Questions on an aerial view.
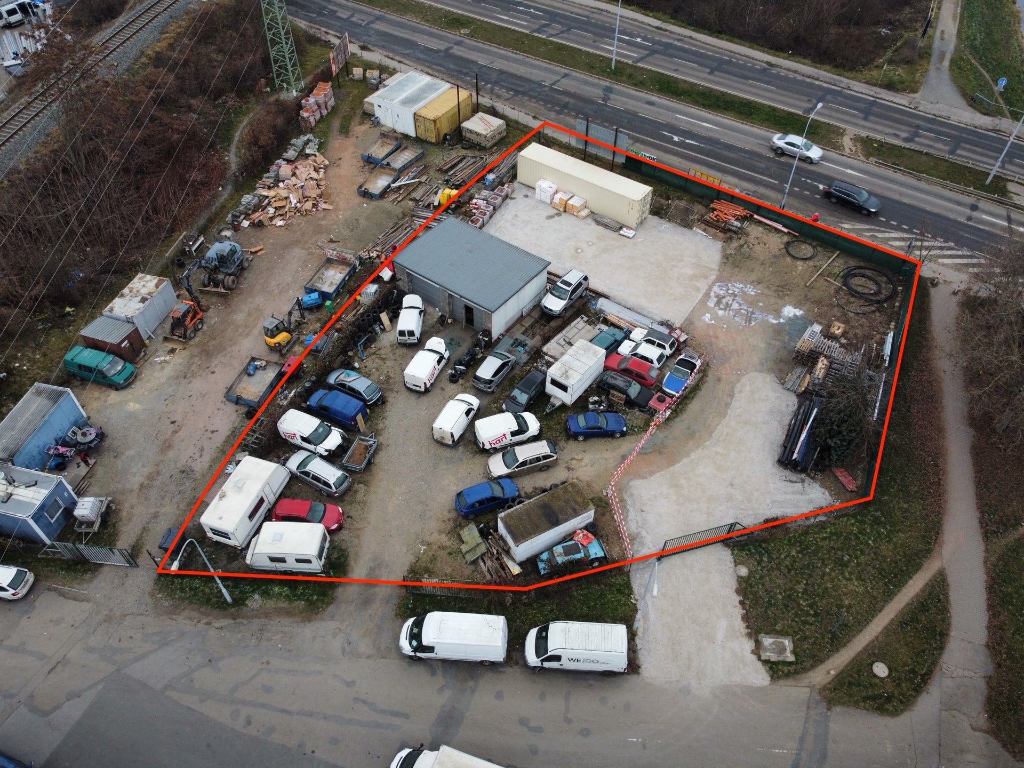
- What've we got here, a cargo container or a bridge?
cargo container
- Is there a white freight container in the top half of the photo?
Yes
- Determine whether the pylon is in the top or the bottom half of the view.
top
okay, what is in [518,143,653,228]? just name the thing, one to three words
shipping container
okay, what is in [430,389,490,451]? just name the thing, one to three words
van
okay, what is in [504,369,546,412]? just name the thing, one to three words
car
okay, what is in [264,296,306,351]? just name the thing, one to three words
work vehicle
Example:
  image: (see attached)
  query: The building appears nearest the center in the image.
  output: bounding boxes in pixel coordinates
[384,209,555,340]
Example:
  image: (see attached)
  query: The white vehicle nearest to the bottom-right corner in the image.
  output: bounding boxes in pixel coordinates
[521,620,630,678]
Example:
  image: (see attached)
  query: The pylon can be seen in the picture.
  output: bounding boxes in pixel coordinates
[257,0,305,97]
